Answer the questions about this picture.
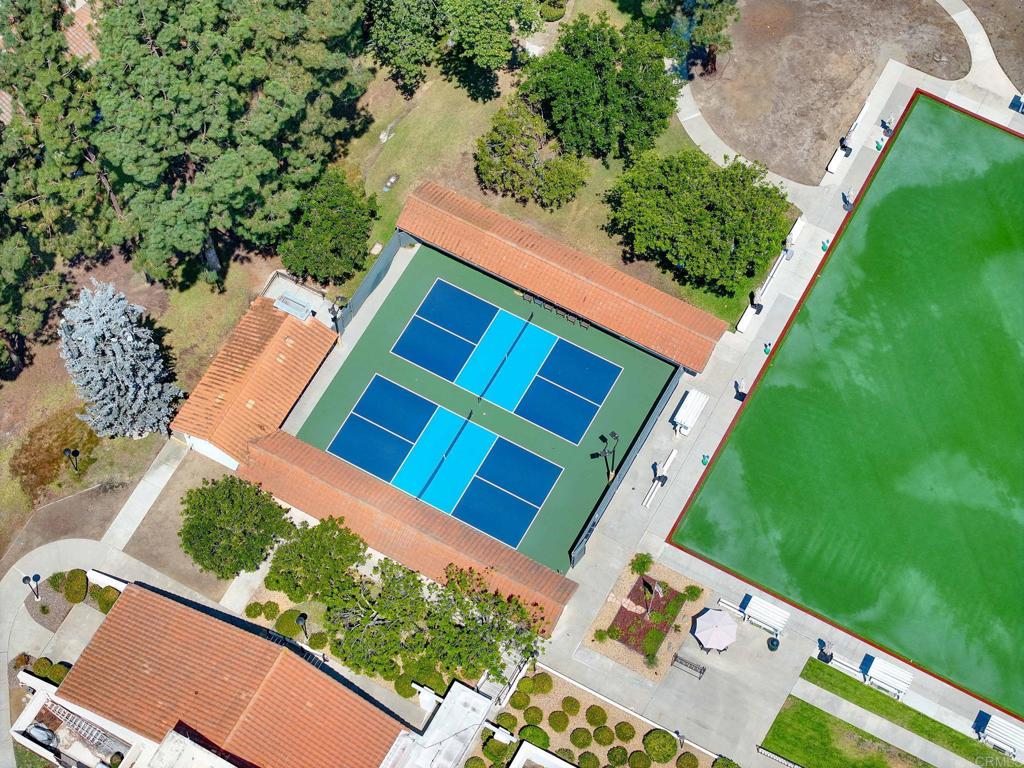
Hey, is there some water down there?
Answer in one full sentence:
No, there is no water in the image.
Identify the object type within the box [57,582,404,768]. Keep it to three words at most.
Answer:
house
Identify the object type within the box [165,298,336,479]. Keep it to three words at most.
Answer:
house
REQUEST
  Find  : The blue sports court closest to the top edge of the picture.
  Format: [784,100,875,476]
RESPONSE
[390,277,624,446]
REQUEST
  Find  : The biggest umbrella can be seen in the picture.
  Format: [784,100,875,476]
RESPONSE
[694,611,736,650]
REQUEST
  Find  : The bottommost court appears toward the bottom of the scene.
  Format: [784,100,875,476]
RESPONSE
[326,373,565,549]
